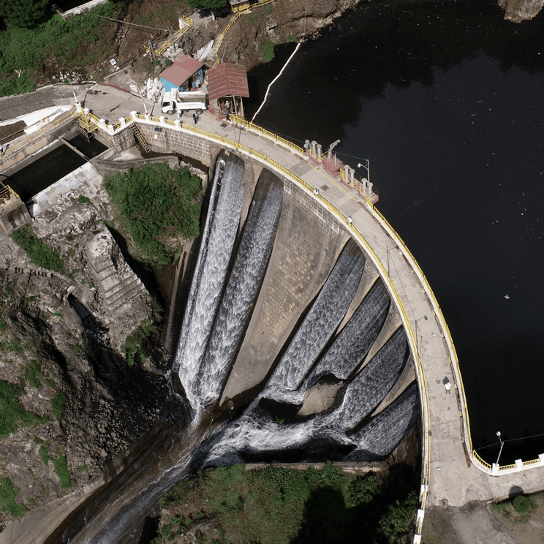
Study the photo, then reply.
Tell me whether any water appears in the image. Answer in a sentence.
Yes, water can be seen from above here.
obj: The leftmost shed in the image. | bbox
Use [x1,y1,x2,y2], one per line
[159,55,205,93]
